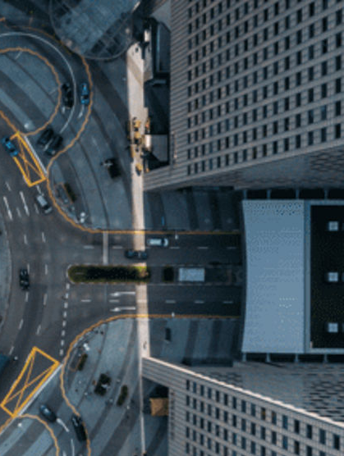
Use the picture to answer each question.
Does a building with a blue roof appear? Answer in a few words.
Yes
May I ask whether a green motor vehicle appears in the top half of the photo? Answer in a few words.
No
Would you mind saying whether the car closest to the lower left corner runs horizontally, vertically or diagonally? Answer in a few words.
diagonally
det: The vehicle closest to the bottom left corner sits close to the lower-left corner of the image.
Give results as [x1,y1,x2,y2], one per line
[38,403,59,424]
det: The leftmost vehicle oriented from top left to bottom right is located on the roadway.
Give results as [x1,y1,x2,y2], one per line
[2,134,20,157]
